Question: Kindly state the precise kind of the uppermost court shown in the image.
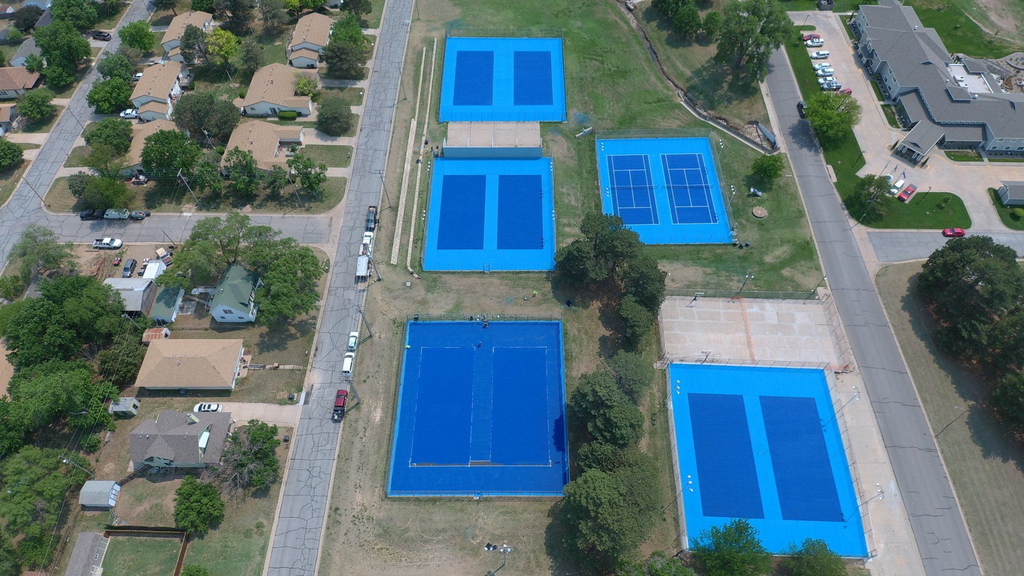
tennis court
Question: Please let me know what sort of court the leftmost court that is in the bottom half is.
tennis court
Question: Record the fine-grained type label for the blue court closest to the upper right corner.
tennis court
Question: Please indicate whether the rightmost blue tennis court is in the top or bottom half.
bottom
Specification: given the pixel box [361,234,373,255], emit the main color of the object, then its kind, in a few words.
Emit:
white vehicle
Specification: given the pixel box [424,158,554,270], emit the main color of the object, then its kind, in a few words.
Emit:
blue tennis court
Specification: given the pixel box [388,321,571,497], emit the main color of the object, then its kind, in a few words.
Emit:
blue tennis court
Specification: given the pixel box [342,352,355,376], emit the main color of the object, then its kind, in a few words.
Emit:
white vehicle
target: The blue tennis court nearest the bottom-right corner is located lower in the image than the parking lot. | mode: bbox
[667,362,871,559]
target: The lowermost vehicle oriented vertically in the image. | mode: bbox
[332,391,347,419]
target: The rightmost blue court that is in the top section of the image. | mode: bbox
[597,137,733,244]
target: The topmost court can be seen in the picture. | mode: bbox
[439,37,566,121]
